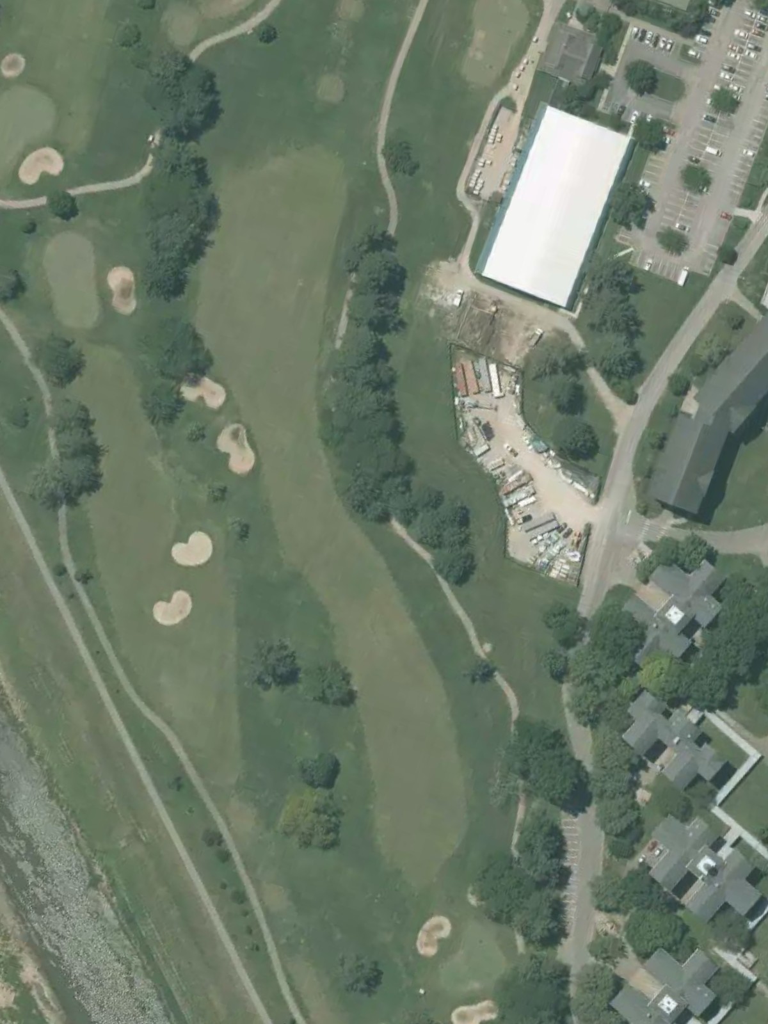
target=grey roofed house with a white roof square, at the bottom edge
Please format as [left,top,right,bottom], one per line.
[609,945,719,1024]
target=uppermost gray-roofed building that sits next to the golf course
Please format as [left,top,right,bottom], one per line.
[536,23,606,82]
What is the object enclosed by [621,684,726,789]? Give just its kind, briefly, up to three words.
house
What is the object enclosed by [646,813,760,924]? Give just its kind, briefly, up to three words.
house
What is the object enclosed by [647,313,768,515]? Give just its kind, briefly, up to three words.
building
